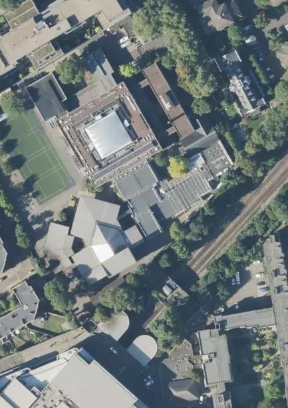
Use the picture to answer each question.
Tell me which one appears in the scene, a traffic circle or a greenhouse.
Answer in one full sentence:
I can see a greenhouse in this picture.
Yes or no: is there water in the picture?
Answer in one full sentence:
No, no water is visible.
